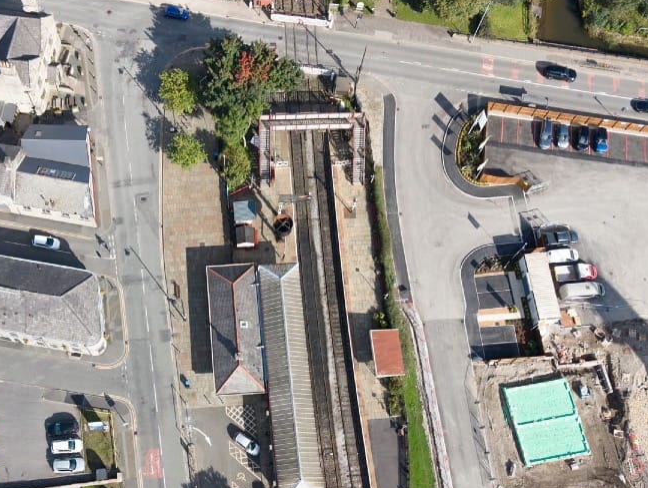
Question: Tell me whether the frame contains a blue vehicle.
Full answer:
Yes, the picture does show a blue vehicle.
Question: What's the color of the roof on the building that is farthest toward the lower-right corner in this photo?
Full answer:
From above, the roof of the building that is farthest toward the lower-right corner looks white.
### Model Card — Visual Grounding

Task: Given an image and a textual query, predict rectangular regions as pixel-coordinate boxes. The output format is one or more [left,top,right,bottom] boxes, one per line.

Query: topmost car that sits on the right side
[542,65,575,83]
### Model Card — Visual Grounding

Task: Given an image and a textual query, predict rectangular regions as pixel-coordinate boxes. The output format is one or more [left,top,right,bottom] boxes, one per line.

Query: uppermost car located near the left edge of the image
[31,234,62,251]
